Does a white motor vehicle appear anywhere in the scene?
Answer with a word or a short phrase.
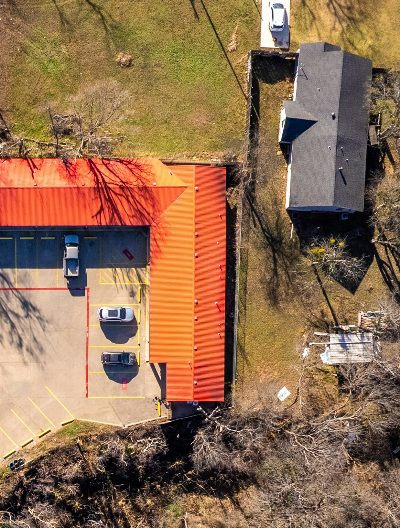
Yes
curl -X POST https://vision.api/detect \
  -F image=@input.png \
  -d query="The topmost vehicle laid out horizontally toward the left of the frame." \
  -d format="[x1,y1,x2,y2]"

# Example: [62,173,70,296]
[99,305,137,322]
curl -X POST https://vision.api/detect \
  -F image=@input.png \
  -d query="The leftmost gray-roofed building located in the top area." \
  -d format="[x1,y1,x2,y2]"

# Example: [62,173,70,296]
[282,41,372,213]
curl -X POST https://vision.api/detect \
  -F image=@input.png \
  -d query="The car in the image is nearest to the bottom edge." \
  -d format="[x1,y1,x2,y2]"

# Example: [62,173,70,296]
[102,350,138,367]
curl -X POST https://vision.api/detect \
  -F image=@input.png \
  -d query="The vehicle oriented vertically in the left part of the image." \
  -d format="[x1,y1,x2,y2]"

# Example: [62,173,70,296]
[64,234,82,277]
